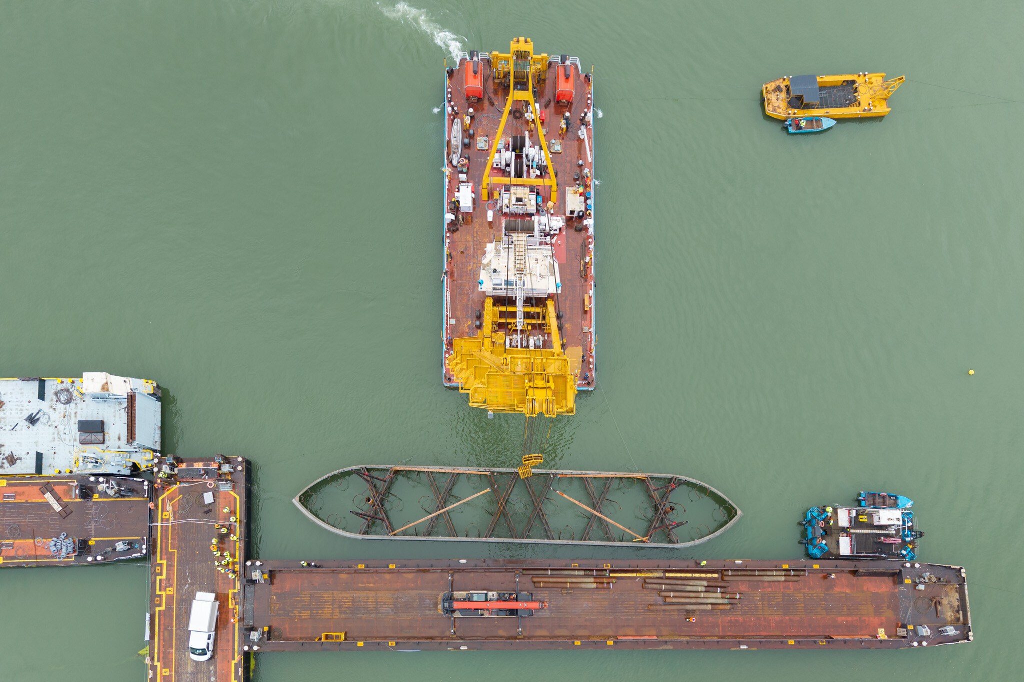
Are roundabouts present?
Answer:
No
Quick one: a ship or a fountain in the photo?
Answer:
ship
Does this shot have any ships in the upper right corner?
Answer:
Yes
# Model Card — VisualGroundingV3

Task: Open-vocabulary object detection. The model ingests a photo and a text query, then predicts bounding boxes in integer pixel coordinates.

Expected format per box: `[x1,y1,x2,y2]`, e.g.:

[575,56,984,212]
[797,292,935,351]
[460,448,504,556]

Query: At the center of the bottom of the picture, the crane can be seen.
[442,572,547,638]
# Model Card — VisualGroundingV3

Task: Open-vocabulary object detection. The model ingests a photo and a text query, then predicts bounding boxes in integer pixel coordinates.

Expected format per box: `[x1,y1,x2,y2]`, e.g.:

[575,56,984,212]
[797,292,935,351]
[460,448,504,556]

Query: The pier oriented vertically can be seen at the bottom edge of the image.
[148,452,250,682]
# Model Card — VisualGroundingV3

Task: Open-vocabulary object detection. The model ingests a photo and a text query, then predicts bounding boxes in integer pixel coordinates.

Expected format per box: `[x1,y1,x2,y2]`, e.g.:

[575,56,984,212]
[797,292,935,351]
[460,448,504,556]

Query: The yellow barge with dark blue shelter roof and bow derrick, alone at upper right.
[761,72,906,121]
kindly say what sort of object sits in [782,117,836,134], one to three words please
boat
